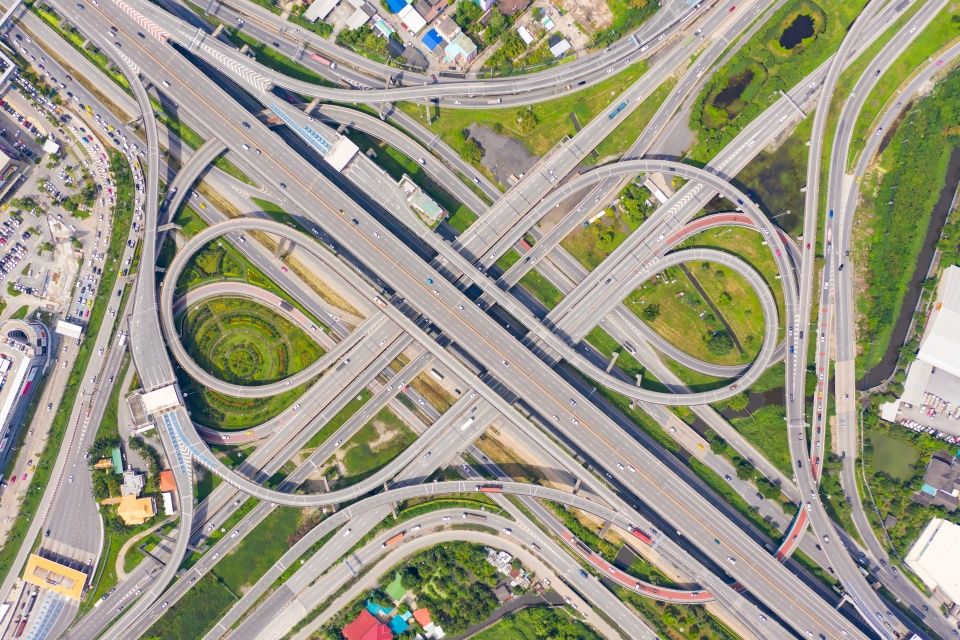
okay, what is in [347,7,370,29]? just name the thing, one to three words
shed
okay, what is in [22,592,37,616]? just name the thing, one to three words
vehicle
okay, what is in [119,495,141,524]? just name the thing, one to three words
house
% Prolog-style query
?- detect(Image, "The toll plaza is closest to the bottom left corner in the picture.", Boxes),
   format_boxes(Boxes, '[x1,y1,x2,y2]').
[23,544,95,603]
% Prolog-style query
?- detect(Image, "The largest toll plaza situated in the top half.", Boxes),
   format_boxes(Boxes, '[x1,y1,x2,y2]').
[323,132,366,176]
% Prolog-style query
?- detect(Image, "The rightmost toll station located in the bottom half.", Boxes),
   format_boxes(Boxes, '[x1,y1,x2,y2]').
[141,379,184,418]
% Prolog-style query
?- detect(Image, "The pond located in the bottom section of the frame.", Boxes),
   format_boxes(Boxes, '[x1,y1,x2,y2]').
[869,435,919,479]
